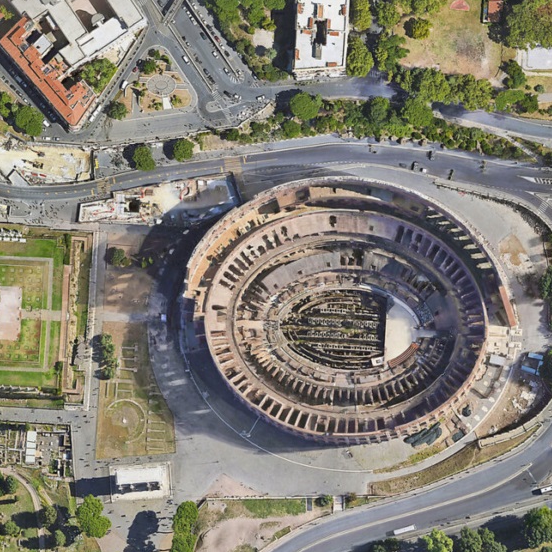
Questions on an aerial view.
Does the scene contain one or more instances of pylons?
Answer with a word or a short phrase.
No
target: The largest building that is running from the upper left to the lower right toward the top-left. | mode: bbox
[1,16,98,134]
